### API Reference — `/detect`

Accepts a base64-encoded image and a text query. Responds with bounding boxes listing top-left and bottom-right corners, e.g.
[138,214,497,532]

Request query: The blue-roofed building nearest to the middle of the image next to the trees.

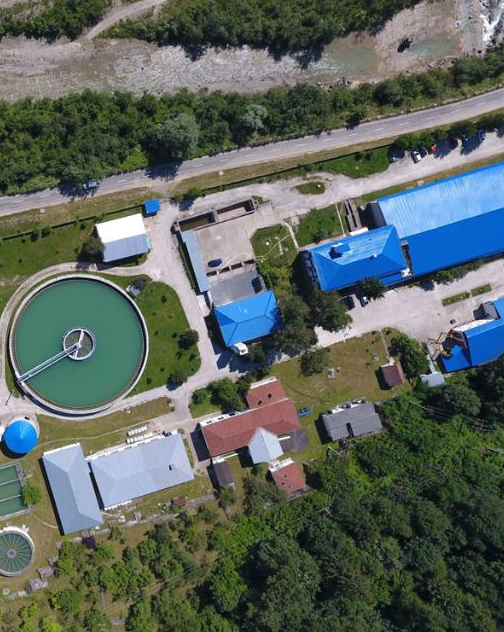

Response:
[211,291,283,347]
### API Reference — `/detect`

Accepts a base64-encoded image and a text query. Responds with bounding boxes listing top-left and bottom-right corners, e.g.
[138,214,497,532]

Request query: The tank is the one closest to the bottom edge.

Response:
[0,526,34,575]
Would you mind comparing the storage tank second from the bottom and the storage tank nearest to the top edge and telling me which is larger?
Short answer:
the storage tank nearest to the top edge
